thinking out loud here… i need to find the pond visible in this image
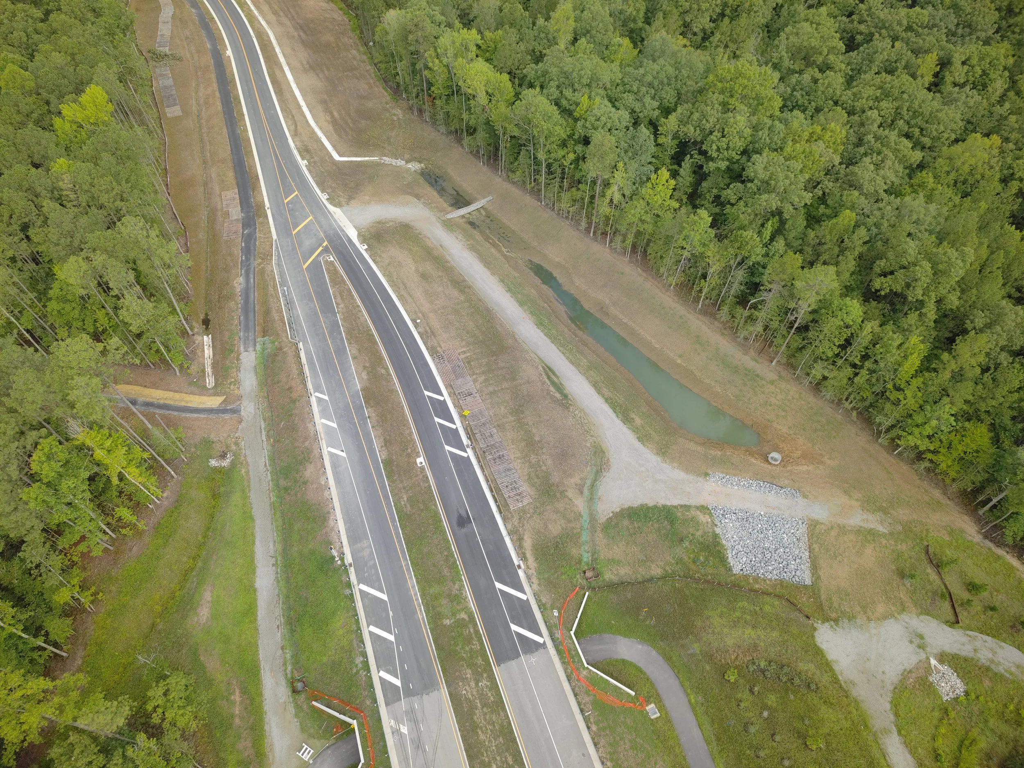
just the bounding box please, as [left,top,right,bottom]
[527,259,760,446]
